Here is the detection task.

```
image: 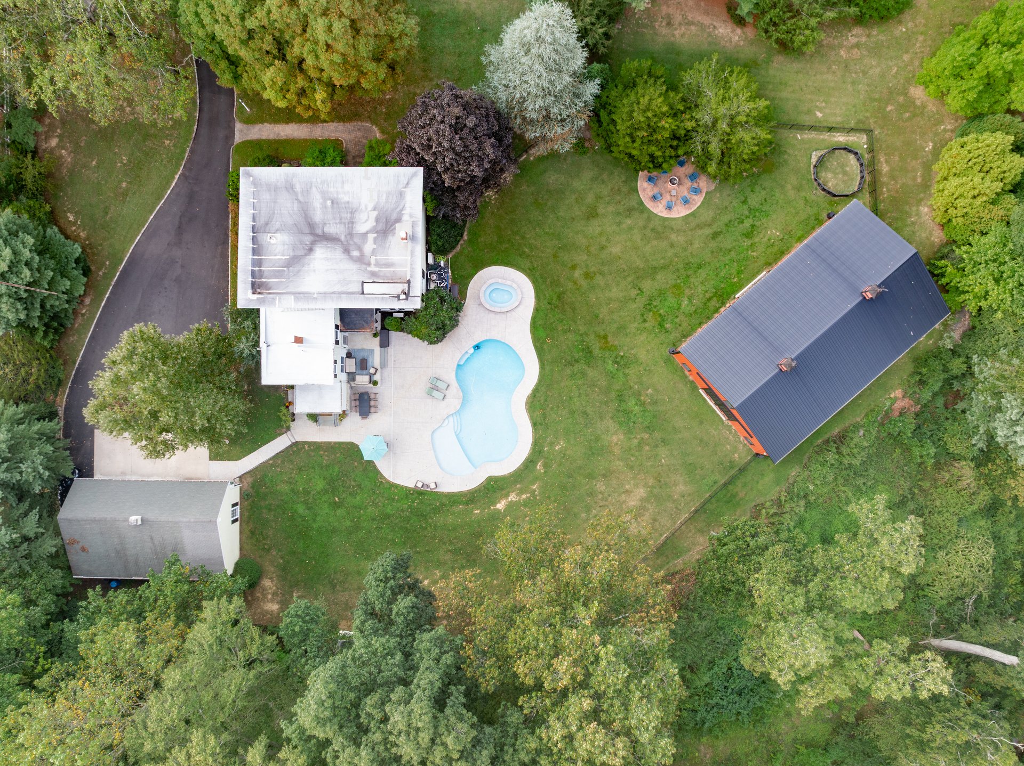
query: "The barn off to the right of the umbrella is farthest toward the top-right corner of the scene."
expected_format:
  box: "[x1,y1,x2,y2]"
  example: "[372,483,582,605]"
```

[670,197,953,464]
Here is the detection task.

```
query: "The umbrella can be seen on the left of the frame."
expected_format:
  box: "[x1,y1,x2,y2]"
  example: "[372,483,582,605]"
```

[361,434,389,462]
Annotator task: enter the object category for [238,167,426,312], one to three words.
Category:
house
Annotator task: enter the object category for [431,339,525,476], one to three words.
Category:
swimming pool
